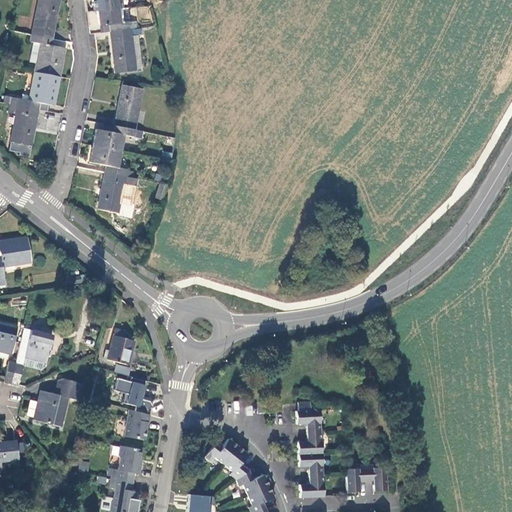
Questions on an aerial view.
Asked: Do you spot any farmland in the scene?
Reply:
Yes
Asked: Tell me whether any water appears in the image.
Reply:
No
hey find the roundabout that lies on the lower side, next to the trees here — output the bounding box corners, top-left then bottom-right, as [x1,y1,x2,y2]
[164,296,240,368]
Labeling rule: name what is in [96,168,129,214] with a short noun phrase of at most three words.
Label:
house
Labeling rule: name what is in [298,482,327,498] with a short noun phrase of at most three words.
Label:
house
